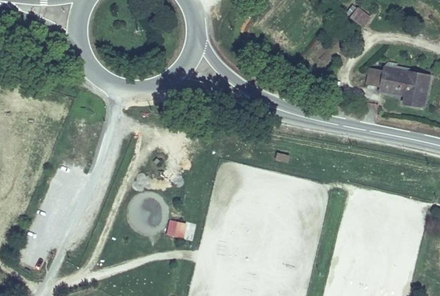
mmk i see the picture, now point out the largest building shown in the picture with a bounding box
[367,62,433,108]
